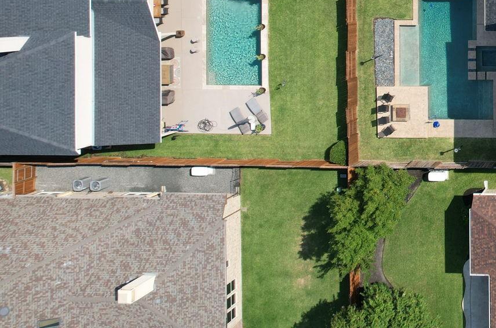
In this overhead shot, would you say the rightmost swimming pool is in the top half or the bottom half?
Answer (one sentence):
The rightmost swimming pool sits in the top half of the picture.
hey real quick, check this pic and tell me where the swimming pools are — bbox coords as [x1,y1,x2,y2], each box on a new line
[400,0,496,119]
[203,0,269,89]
